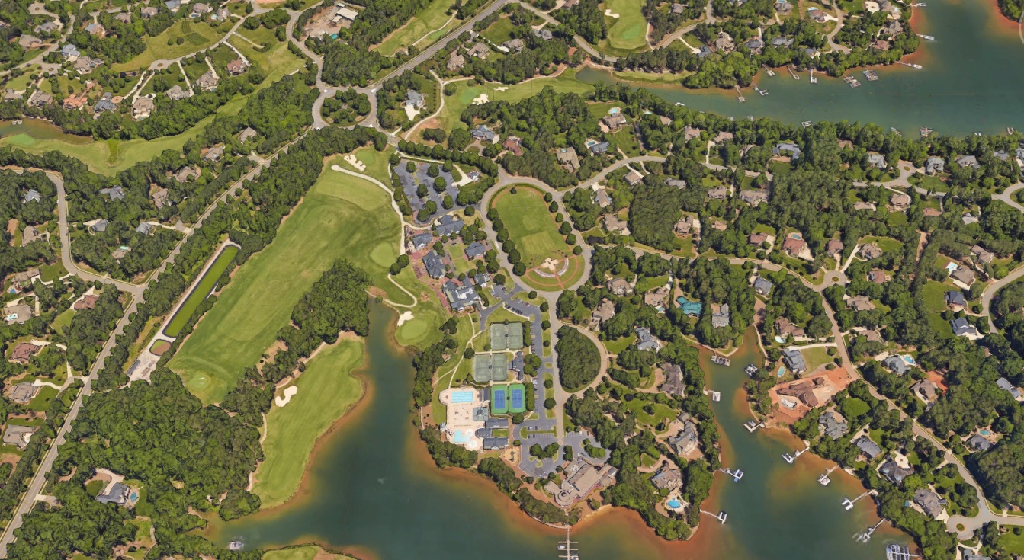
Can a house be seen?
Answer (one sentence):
Yes, the frame does contain a house.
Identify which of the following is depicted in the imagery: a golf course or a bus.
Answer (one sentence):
This aerial view contains a golf course.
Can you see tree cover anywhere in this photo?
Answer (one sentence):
Yes, there's tree cover in this view.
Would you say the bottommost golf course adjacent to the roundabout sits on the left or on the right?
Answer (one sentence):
It is on the left.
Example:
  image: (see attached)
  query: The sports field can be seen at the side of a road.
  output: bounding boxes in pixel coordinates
[489,184,585,292]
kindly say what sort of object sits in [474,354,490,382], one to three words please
tennis court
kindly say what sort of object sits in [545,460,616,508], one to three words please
building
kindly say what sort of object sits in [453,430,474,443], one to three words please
swimming pool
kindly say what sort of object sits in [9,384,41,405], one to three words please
house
